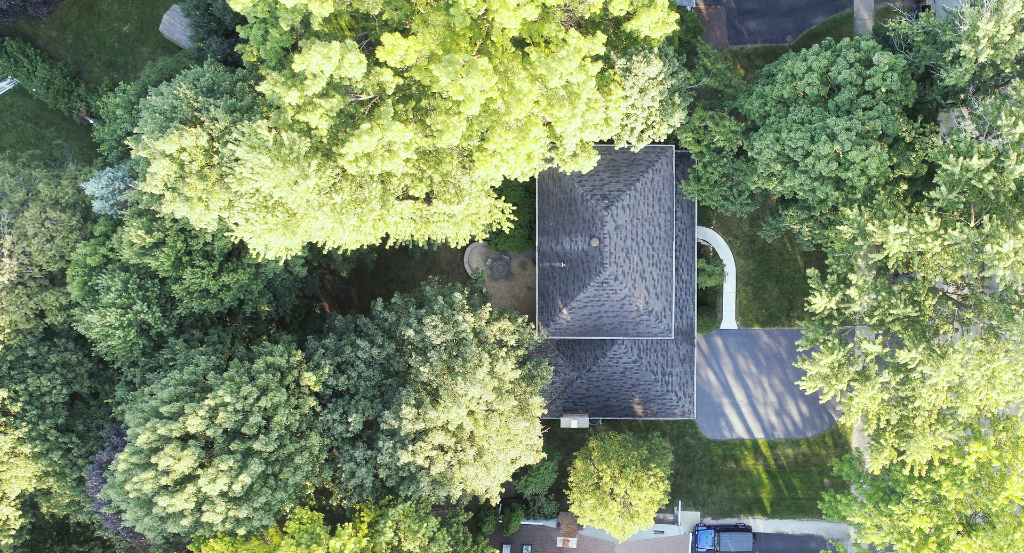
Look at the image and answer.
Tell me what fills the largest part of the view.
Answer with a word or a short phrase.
trees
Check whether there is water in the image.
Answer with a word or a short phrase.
No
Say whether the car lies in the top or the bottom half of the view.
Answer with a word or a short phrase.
bottom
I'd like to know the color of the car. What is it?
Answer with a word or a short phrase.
blue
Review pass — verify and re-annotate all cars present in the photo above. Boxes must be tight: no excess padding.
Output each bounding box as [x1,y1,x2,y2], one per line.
[689,522,754,553]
